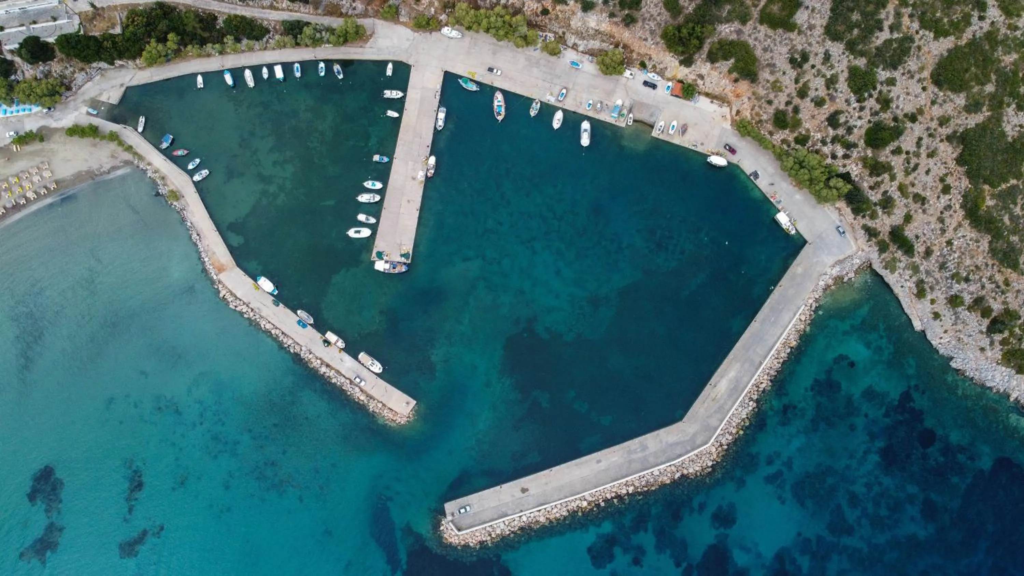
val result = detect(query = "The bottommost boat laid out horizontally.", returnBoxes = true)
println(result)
[375,260,408,273]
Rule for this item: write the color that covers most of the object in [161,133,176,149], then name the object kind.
blue boat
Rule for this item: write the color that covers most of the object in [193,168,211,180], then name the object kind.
white boat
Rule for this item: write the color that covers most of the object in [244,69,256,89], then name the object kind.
white boat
